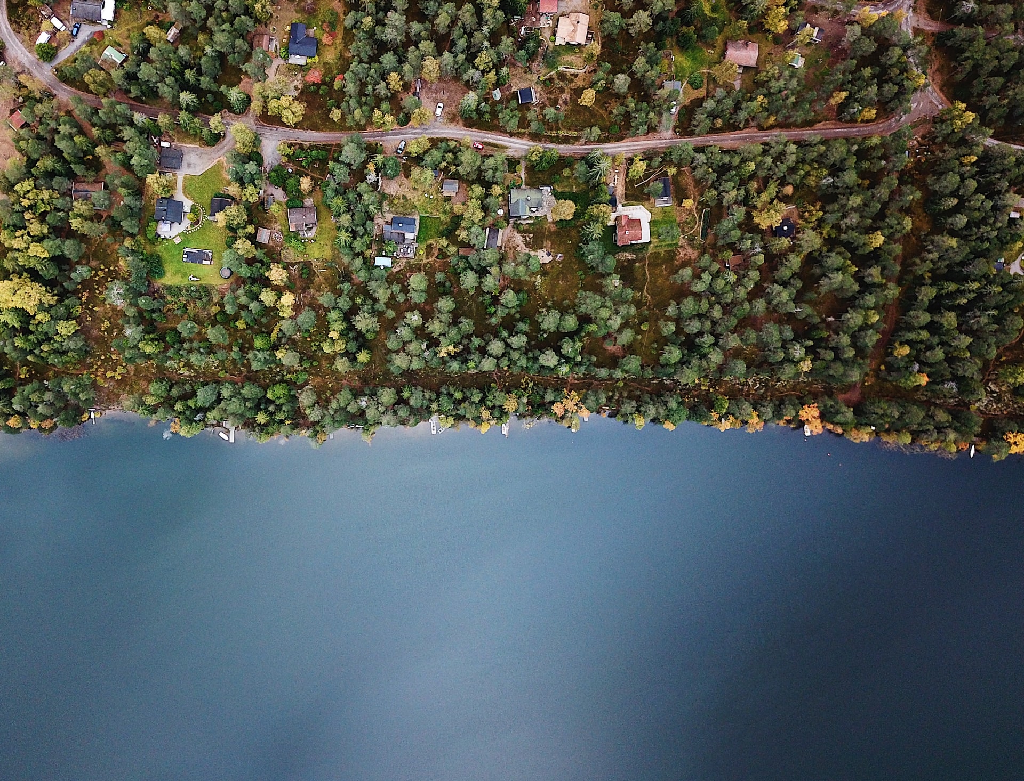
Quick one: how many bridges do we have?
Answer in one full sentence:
The photo contains no bridges.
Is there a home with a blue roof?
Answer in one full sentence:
Yes, a home with a blue roof is visible in the scene.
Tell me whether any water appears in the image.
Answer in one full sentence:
Yes, there's water in this view.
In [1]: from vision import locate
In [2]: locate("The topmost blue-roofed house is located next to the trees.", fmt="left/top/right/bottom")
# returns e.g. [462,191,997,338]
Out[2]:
[288,21,320,70]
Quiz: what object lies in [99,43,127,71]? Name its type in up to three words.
building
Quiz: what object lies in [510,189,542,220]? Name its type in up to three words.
house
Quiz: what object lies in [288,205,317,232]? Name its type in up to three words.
house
